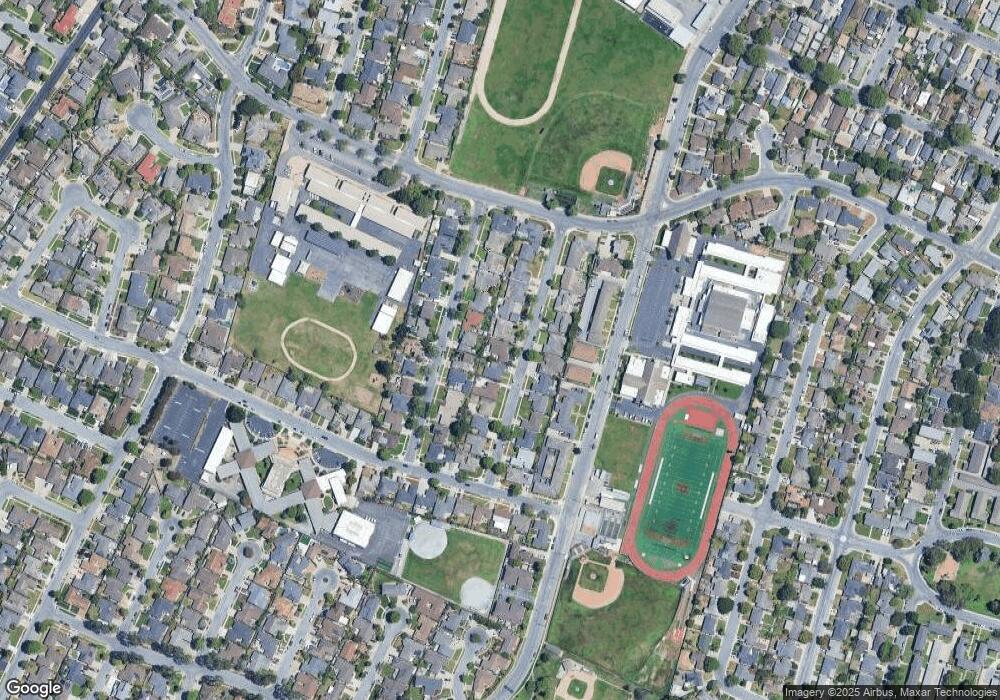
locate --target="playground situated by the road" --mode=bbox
[934,551,959,582]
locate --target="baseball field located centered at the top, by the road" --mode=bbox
[579,150,633,201]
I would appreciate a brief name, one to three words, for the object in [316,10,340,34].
house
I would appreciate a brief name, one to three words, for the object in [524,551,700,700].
sports field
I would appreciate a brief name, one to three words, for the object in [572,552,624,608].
baseball field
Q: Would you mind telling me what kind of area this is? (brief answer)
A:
residential area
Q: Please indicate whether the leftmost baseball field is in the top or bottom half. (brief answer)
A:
bottom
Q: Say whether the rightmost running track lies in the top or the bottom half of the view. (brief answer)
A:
top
